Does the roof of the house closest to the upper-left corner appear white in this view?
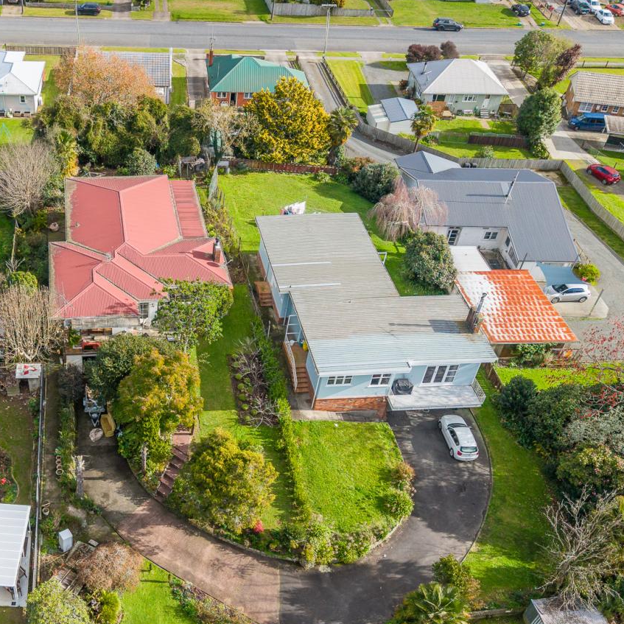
Yes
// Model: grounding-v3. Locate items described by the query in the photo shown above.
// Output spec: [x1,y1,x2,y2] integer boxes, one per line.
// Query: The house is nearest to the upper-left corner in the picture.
[0,52,46,113]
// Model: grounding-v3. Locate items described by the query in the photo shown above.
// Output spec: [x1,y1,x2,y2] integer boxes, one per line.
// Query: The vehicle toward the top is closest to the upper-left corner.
[75,3,104,17]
